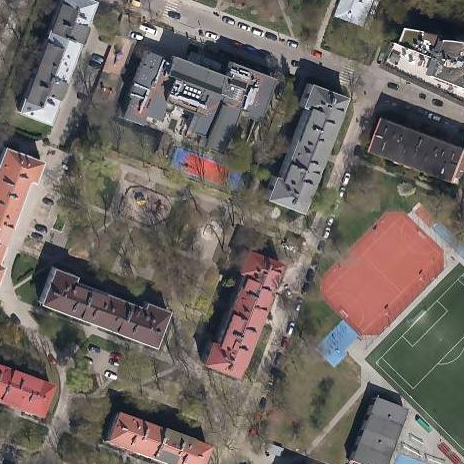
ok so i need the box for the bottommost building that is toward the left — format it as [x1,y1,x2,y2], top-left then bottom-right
[107,411,216,464]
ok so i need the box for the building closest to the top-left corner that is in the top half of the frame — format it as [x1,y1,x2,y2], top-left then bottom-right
[21,0,101,124]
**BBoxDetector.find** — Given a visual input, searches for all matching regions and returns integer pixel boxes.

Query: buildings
[269,84,352,215]
[107,411,216,464]
[354,396,410,464]
[335,0,375,27]
[387,28,464,97]
[124,49,279,152]
[0,364,59,418]
[40,265,175,350]
[206,250,288,381]
[0,147,49,288]
[21,0,101,124]
[370,117,464,184]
